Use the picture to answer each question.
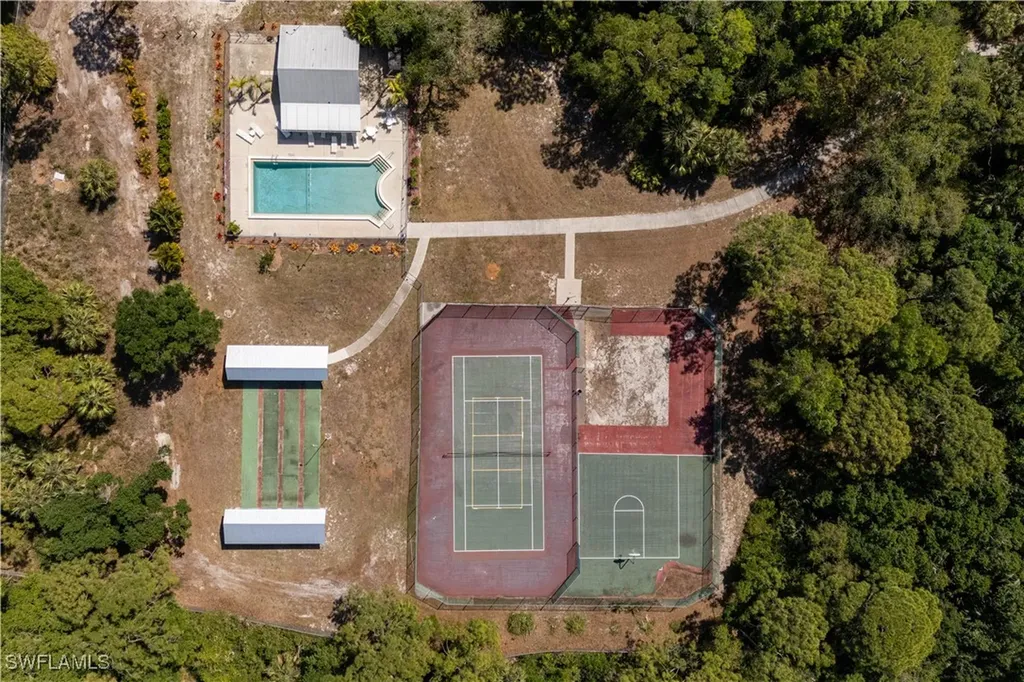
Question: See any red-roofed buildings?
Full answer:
No, I can see no red-roofed building in this picture.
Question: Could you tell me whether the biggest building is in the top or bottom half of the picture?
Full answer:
The top half of the photo is where the biggest building is.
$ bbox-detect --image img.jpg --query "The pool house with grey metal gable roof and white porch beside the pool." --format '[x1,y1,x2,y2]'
[277,25,362,135]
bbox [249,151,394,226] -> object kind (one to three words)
swimming pool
